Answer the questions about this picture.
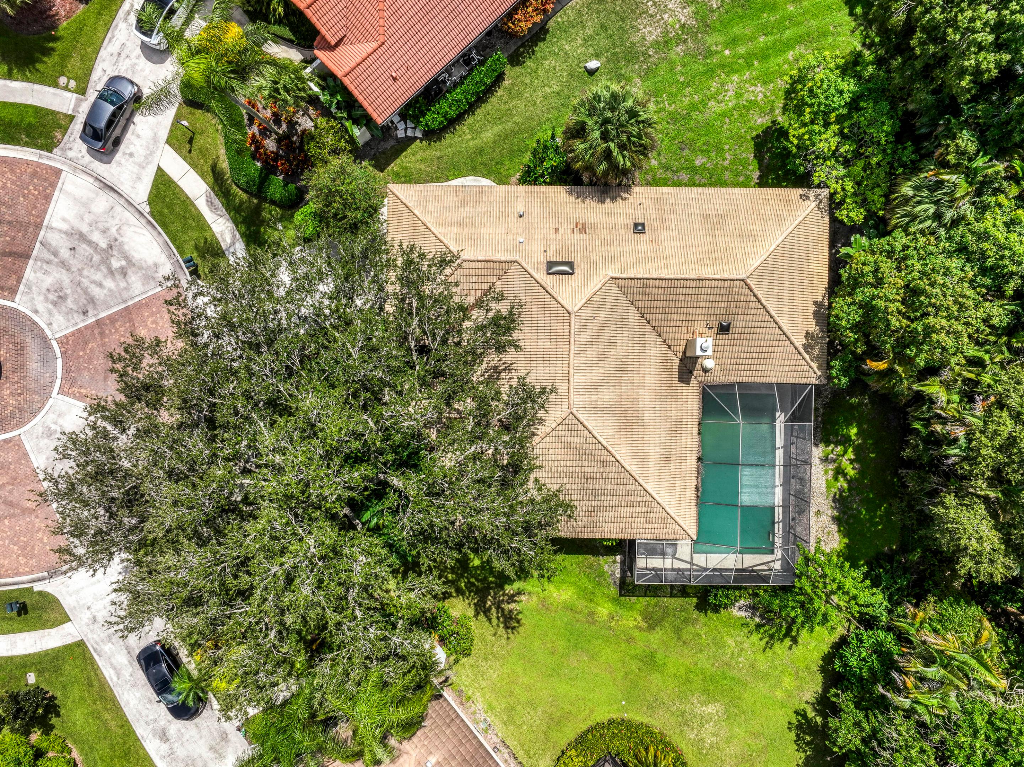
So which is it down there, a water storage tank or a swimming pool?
swimming pool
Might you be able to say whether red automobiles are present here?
No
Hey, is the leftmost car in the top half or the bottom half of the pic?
top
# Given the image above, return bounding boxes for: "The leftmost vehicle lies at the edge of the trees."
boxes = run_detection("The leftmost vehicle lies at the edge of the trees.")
[79,78,139,153]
